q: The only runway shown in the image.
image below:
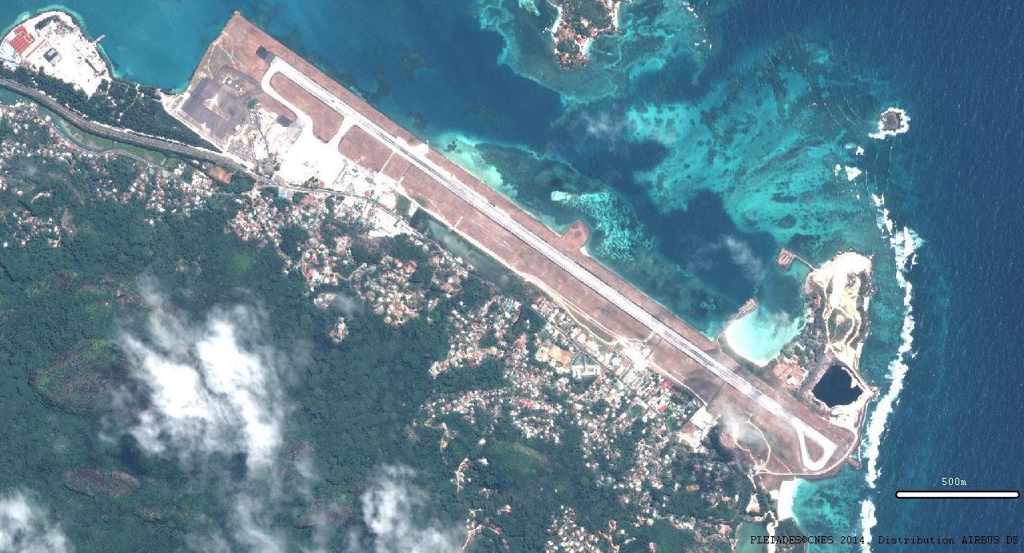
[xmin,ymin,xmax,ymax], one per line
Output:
[272,58,838,454]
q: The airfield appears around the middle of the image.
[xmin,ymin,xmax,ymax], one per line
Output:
[181,17,857,477]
